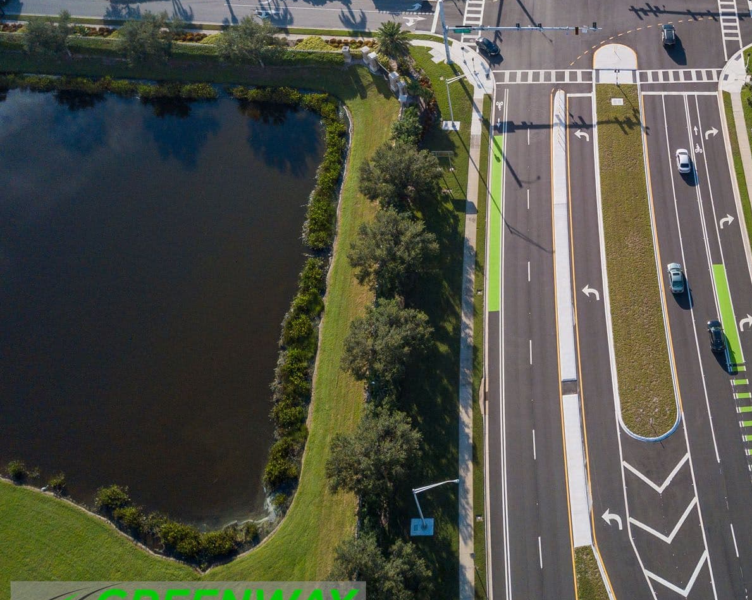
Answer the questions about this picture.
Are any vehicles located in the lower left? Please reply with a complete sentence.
No, no vehicle is visible in the lower left.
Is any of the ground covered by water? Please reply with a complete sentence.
Yes, there's water in this view.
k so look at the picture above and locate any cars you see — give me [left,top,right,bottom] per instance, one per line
[473,33,499,57]
[667,264,686,296]
[707,323,727,358]
[676,149,693,175]
[662,26,676,49]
